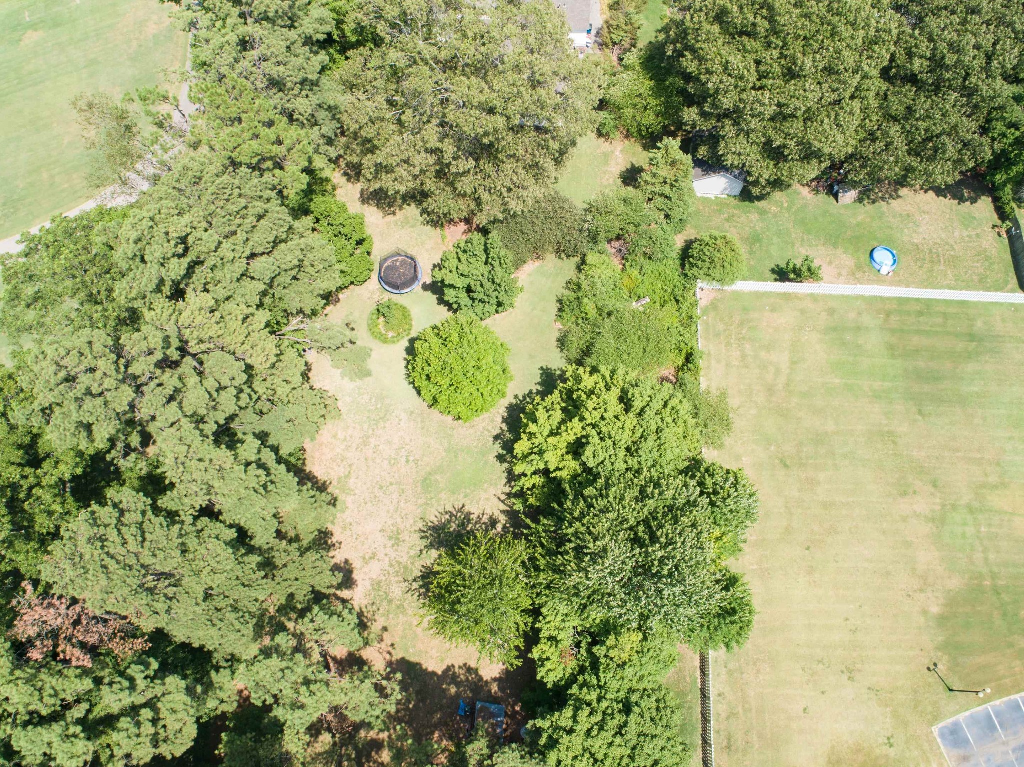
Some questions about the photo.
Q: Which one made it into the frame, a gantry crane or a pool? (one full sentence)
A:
There is a pool in the scene.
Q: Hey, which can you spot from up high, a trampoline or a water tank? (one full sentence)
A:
The image shows a trampoline.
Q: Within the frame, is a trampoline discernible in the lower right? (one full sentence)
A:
No, no trampoline appears in the lower right.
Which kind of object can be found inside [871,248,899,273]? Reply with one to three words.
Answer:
swimming pool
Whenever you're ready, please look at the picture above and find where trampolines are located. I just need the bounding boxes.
[379,248,424,299]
